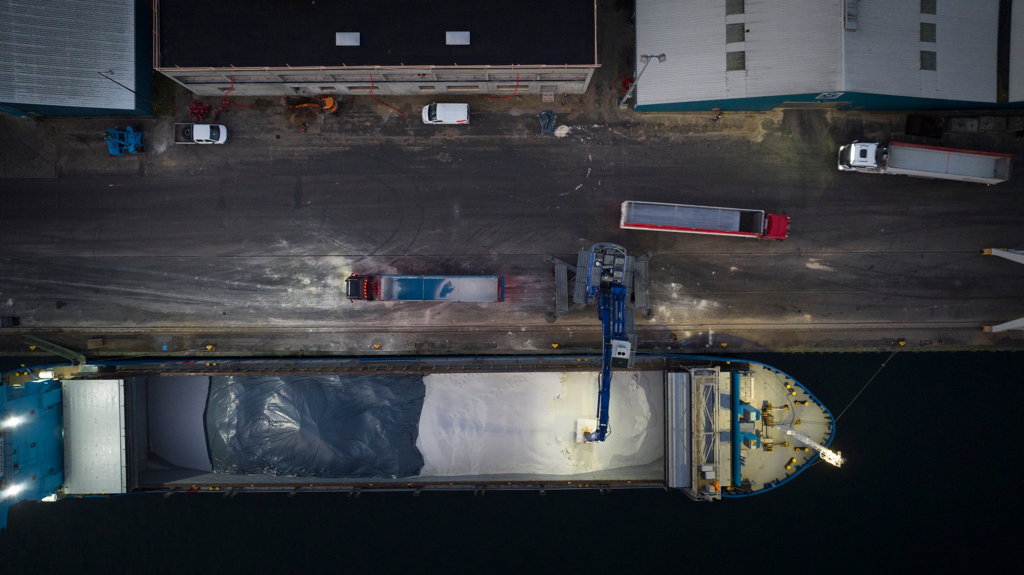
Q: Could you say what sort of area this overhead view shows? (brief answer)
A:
port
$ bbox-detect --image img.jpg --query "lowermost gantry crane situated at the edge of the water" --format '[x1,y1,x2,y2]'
[676,364,721,501]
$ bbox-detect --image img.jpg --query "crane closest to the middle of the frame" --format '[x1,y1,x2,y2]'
[545,243,655,444]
